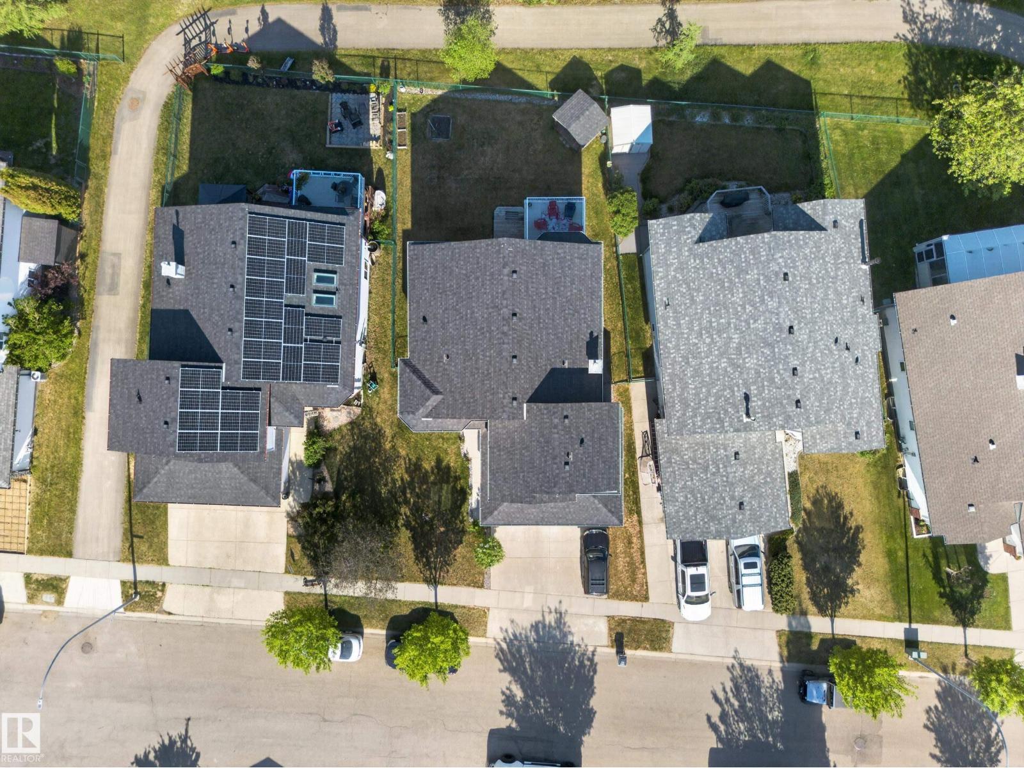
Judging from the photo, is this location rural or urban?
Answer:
urban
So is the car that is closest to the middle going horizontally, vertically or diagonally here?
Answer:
vertically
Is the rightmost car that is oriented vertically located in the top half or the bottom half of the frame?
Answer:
bottom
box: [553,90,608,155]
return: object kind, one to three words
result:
shed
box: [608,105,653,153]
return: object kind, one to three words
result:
shed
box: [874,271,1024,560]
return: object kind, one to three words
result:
house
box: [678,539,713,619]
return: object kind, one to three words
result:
truck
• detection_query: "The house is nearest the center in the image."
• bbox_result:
[397,230,624,526]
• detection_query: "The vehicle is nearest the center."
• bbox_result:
[580,528,611,595]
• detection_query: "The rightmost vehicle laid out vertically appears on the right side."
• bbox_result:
[730,535,766,612]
